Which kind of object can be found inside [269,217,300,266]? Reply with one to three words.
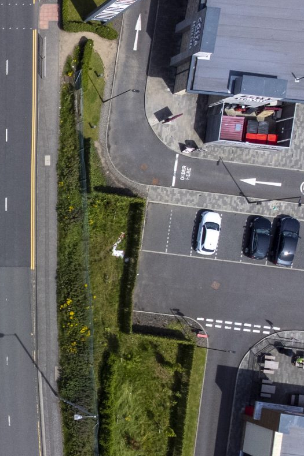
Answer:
car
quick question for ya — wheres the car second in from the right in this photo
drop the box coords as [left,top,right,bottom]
[244,217,273,259]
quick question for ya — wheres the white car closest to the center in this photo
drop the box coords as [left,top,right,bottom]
[193,210,221,256]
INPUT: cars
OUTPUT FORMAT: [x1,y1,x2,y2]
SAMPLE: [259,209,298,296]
[269,217,300,266]
[193,210,221,256]
[244,217,273,259]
